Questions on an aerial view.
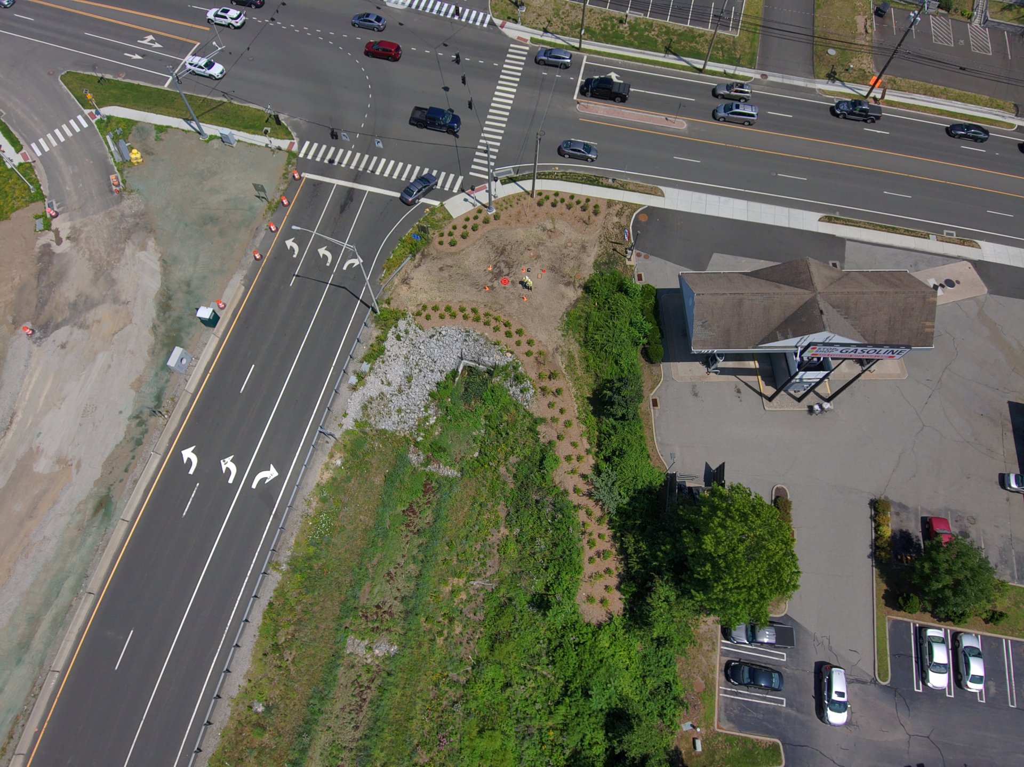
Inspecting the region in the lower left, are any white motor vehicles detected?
No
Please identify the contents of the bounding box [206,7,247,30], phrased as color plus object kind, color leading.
white car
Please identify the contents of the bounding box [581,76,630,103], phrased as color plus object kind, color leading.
black truck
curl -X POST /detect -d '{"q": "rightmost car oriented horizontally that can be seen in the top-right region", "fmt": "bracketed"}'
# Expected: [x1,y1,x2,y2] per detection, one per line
[945,122,991,145]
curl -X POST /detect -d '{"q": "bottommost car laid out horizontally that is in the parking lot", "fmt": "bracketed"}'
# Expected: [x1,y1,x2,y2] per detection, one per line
[724,660,783,690]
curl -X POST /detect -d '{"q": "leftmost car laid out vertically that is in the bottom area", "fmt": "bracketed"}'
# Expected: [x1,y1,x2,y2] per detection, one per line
[818,662,851,727]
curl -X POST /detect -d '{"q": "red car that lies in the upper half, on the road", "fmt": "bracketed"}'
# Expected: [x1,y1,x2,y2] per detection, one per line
[365,40,402,63]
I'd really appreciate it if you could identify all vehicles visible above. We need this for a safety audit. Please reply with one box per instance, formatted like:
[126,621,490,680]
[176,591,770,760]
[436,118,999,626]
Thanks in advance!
[818,662,851,727]
[535,47,572,69]
[918,628,950,691]
[185,56,225,81]
[724,660,783,690]
[365,40,402,63]
[726,620,793,648]
[399,175,438,206]
[557,141,599,164]
[832,98,882,124]
[712,82,753,104]
[350,12,388,34]
[206,7,247,30]
[230,0,267,11]
[713,101,758,127]
[409,107,460,135]
[581,76,630,103]
[945,122,991,145]
[952,633,984,695]
[921,509,958,547]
